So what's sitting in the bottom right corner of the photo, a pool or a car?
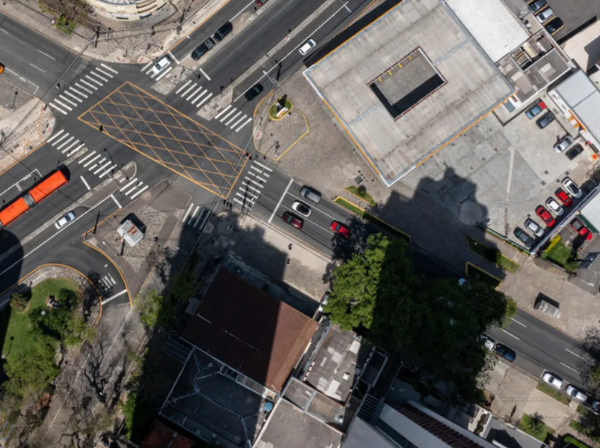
car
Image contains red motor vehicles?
Yes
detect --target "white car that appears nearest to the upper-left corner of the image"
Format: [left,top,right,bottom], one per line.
[150,54,175,76]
